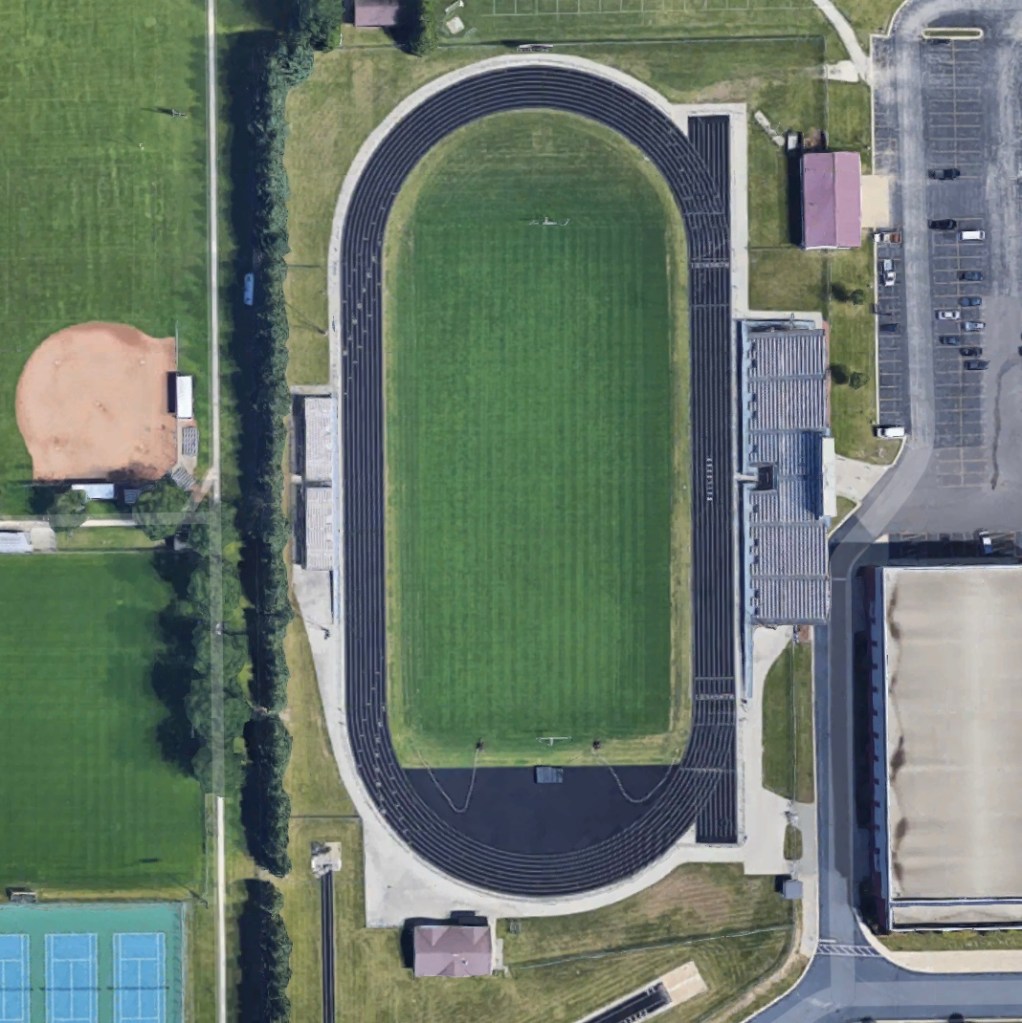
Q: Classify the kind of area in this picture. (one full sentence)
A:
What you see here is a sports ground.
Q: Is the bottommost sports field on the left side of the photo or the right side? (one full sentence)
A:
The bottommost sports field appears in the left half of the scene.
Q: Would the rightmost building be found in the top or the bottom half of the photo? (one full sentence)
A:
It is in the bottom half that the rightmost building appears.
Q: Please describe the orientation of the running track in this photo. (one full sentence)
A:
Seen from above, the running track lies vertically.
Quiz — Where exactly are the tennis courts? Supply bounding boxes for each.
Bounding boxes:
[0,904,37,1023]
[37,904,105,1023]
[105,903,186,1023]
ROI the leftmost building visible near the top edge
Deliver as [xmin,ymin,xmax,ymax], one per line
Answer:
[354,0,399,29]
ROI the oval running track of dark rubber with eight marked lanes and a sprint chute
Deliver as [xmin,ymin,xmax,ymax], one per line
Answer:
[340,68,737,895]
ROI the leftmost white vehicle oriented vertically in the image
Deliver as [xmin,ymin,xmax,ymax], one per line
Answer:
[882,259,895,287]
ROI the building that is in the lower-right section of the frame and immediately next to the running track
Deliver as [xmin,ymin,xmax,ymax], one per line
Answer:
[865,563,1022,932]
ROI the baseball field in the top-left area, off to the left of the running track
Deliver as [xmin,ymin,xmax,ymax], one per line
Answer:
[0,0,211,517]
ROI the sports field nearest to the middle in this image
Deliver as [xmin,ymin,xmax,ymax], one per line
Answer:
[382,110,692,767]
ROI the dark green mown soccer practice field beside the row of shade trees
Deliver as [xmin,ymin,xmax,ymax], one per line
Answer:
[0,553,205,890]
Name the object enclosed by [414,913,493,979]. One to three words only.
building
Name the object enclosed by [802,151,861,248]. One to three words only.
building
